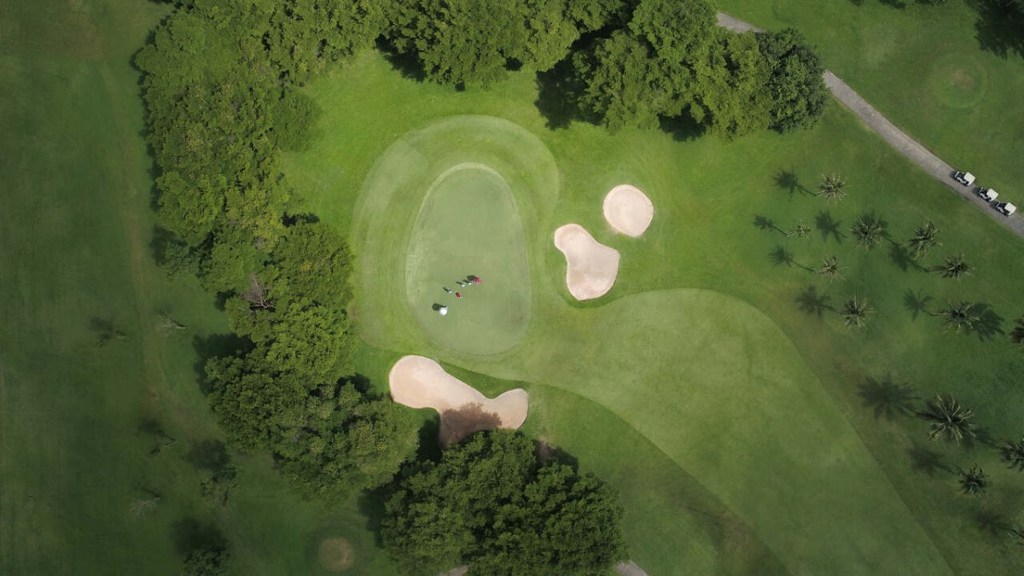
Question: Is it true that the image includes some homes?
No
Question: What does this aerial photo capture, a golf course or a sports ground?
golf course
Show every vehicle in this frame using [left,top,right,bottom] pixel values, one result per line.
[952,170,977,188]
[976,187,1001,204]
[994,200,1019,218]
